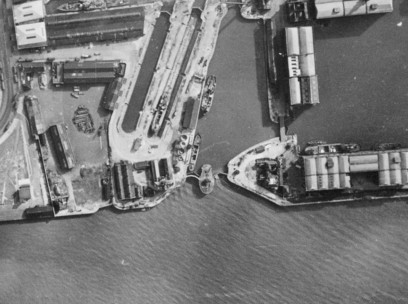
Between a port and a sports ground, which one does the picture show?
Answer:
port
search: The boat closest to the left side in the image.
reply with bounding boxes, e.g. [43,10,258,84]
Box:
[35,74,51,90]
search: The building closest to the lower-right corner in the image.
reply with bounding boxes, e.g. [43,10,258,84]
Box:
[375,168,408,185]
